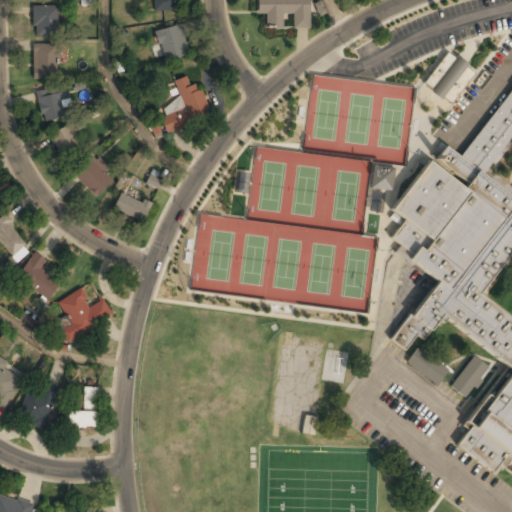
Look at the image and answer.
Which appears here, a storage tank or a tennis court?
tennis court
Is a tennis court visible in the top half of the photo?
Yes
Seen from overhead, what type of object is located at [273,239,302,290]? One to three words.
tennis court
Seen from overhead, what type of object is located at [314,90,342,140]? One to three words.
tennis court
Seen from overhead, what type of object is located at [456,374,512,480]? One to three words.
building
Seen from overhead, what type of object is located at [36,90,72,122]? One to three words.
house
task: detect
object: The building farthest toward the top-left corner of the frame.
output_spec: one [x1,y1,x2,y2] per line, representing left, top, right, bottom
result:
[34,5,58,36]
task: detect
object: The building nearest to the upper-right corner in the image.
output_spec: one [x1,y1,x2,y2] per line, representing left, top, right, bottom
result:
[424,52,476,104]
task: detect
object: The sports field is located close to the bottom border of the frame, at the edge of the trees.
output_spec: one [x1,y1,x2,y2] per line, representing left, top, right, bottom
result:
[258,446,378,512]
